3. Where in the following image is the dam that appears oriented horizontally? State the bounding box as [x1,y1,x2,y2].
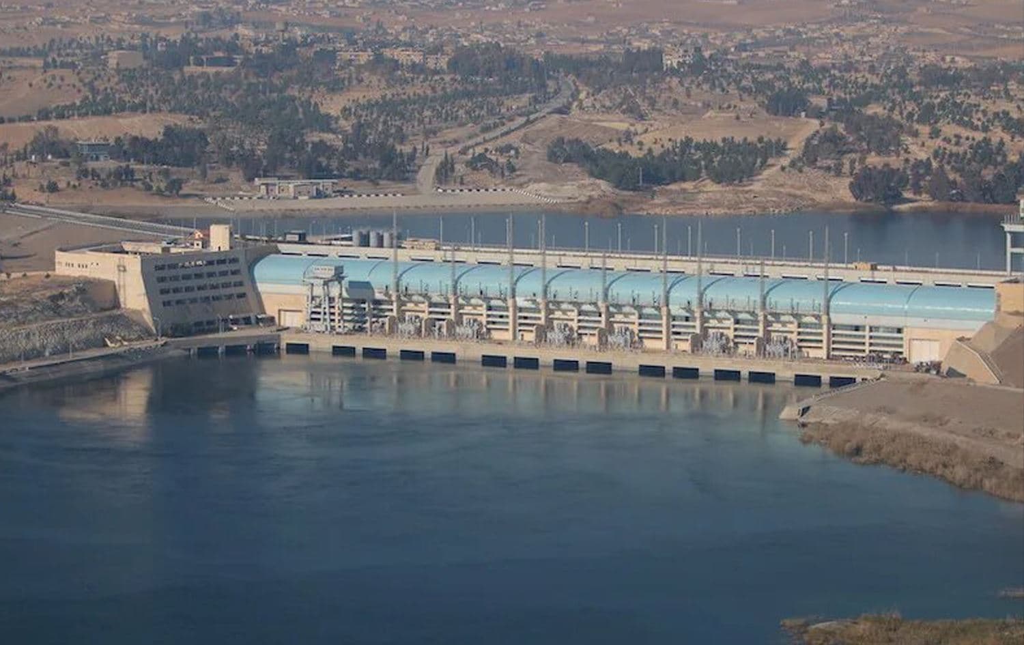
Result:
[266,236,1024,289]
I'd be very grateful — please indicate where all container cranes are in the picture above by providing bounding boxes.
[299,261,352,334]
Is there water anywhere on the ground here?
Yes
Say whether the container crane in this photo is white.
Yes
